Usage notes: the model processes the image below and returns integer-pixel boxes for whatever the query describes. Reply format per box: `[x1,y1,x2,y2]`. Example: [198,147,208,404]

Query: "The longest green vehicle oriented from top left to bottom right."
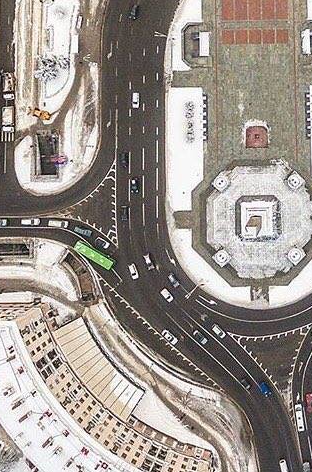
[70,241,114,274]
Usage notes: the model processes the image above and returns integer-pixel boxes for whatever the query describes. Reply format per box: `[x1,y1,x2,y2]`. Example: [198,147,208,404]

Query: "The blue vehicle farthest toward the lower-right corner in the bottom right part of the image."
[256,380,270,399]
